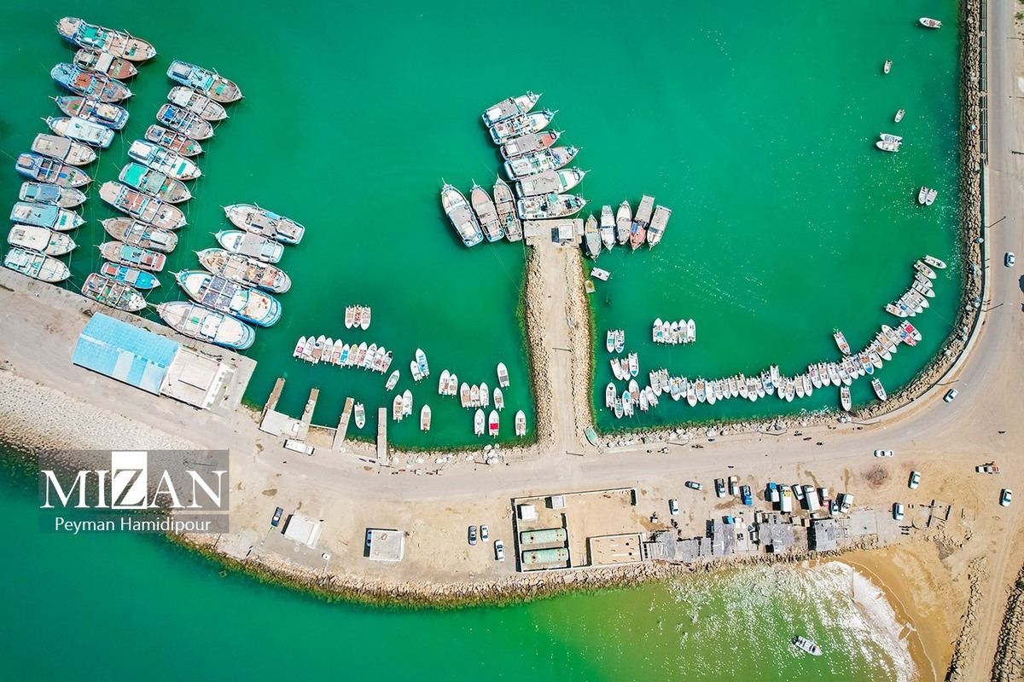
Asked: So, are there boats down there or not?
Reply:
Yes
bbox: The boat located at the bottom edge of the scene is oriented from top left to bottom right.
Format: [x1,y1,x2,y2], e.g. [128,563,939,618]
[794,637,822,655]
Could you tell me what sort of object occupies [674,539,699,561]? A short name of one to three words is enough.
shed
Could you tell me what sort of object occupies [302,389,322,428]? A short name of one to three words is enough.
pier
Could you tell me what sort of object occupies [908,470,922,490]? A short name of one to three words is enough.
car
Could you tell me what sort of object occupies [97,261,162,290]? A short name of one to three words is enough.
boat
